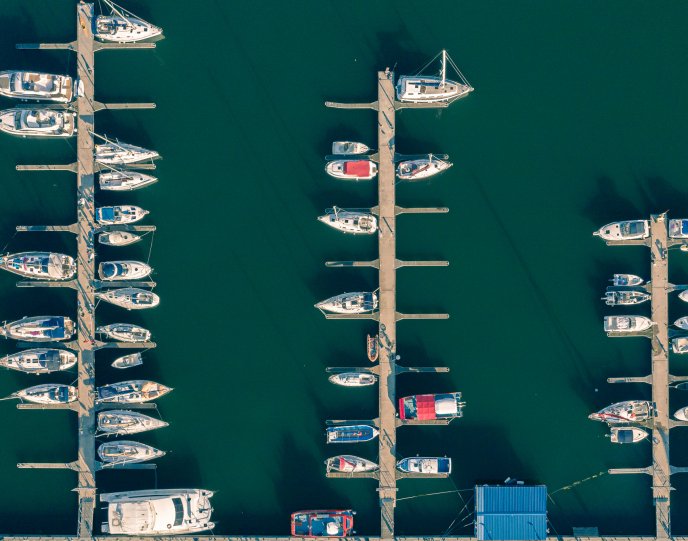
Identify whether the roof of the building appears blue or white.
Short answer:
blue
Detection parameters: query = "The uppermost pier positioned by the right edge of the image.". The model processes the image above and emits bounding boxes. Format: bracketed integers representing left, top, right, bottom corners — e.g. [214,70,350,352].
[605,214,688,508]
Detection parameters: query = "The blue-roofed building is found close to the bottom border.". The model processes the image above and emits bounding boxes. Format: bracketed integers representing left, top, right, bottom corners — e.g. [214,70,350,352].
[470,476,548,541]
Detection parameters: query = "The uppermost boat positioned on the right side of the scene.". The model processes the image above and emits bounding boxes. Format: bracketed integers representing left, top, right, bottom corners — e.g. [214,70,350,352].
[394,50,474,105]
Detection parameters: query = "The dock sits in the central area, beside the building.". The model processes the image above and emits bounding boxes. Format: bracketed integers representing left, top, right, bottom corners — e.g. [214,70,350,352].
[325,71,450,508]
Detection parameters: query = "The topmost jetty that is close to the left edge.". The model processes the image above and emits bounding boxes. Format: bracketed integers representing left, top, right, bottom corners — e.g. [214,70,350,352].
[15,3,157,508]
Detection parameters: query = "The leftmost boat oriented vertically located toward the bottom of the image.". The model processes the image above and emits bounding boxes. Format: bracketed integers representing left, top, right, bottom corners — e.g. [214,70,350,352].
[367,335,379,362]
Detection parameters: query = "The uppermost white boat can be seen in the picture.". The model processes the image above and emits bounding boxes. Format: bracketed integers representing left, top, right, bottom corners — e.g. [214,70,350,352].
[93,0,163,44]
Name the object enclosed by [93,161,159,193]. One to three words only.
boat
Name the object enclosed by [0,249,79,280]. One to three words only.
boat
